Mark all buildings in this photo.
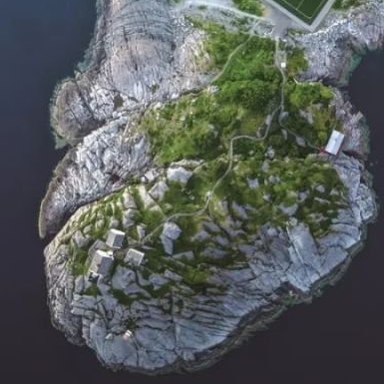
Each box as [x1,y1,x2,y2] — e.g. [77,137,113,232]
[107,229,126,248]
[125,248,144,266]
[325,130,345,155]
[89,250,114,277]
